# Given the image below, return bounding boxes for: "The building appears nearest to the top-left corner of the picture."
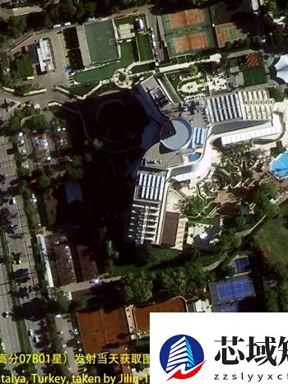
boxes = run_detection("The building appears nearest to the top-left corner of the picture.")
[37,39,52,74]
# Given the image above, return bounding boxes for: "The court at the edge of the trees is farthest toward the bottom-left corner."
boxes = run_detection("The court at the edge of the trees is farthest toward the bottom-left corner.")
[76,305,132,354]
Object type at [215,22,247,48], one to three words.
basketball court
